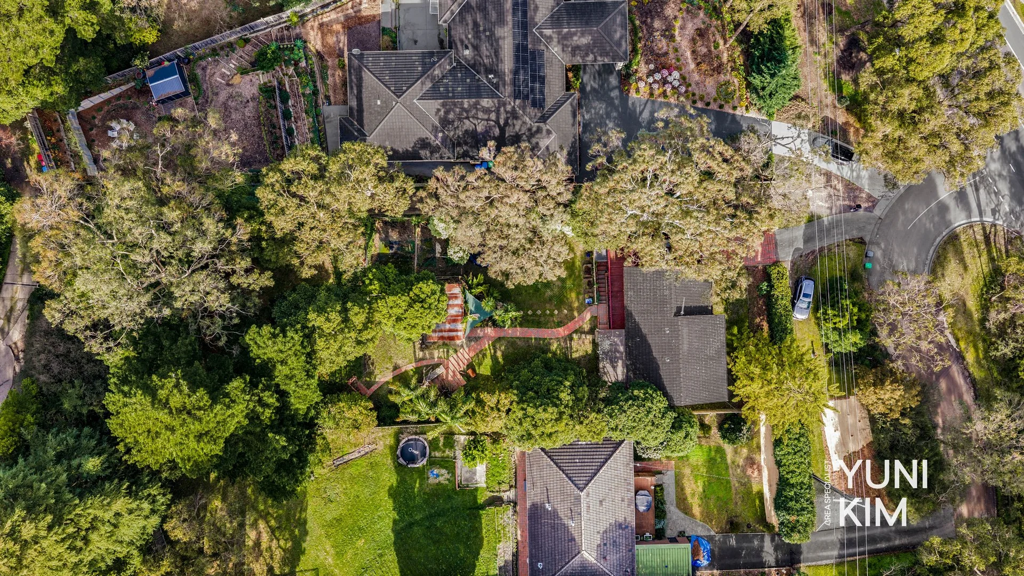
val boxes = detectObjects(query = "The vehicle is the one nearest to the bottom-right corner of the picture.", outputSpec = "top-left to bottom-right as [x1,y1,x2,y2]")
[789,276,814,320]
